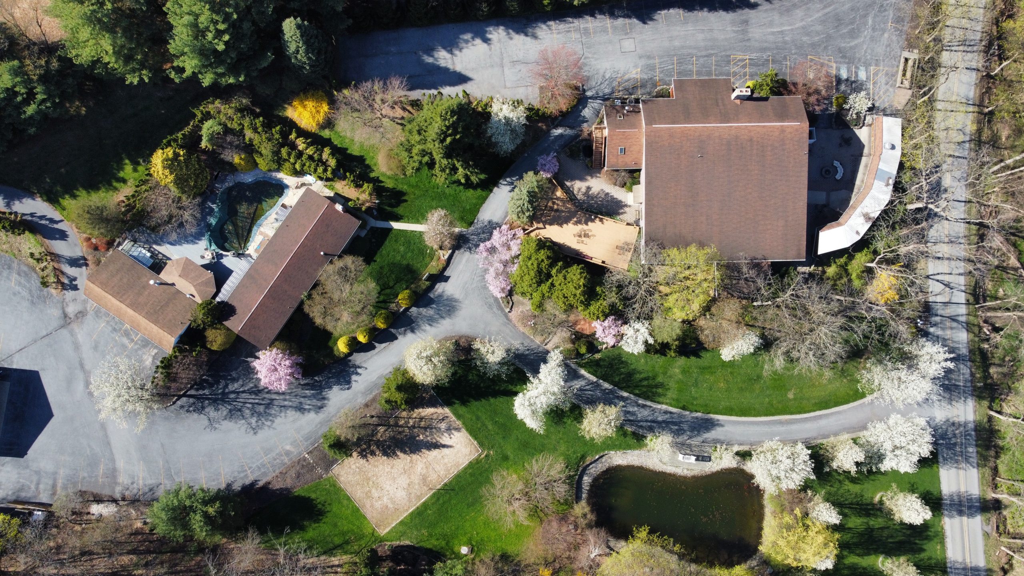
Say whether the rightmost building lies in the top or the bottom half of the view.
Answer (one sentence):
The rightmost building sits in the top half of the picture.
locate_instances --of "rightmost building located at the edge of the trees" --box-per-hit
[809,117,902,256]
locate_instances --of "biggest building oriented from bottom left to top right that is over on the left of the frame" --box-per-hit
[216,187,362,349]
